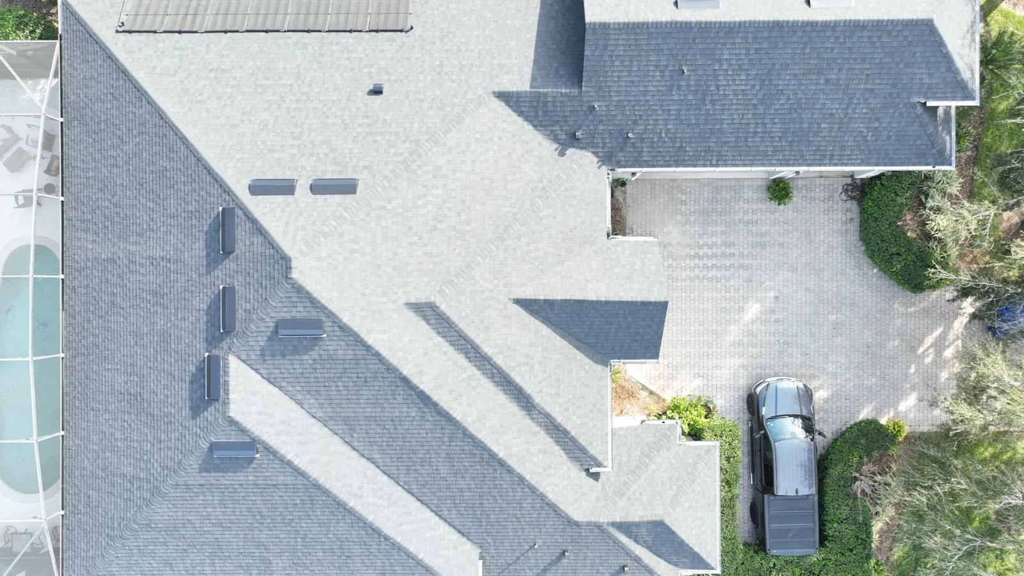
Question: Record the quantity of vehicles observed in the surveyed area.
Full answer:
I count 1 vehicle.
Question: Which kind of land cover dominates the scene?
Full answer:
What you mostly see from above here is buildings.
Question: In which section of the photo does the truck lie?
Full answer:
The truck is located in the bottom right region of the scene.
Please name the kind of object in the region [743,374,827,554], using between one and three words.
truck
